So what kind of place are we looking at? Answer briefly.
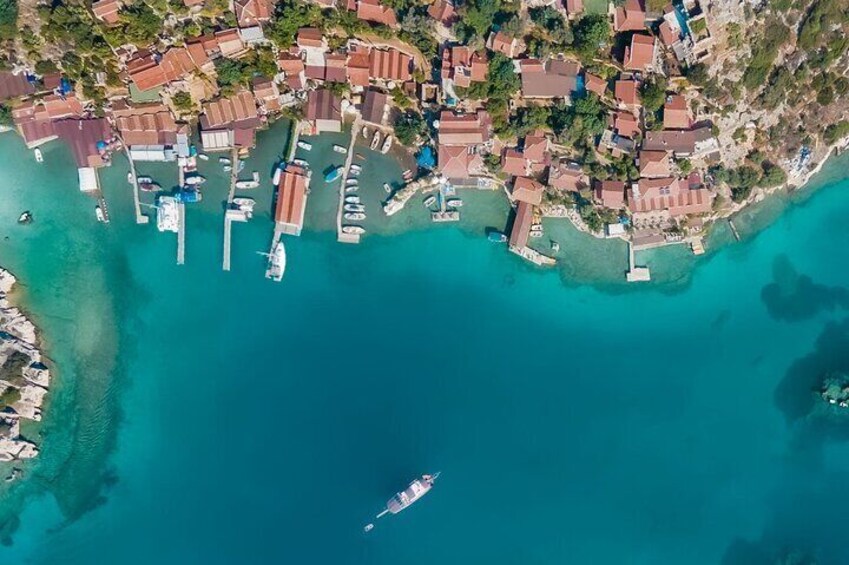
residential area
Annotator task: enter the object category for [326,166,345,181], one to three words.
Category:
boat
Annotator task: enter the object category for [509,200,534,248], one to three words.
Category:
building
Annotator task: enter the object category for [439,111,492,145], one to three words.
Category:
house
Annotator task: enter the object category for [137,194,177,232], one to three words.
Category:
boat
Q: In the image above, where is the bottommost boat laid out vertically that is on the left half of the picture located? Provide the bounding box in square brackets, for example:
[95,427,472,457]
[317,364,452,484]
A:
[263,240,284,284]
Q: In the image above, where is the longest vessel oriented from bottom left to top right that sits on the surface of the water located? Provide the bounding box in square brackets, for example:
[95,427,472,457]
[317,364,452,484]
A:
[378,475,441,519]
